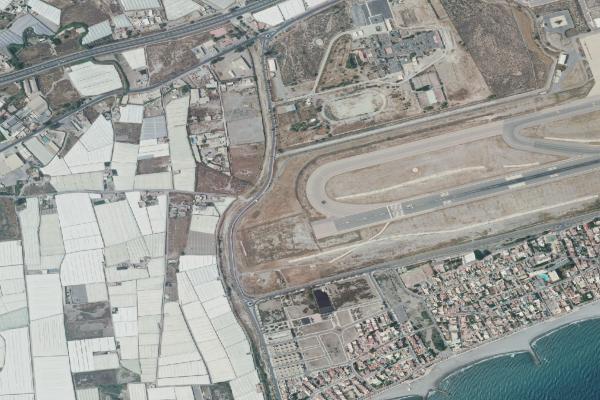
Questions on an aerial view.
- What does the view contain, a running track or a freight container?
running track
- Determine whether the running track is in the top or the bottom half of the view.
top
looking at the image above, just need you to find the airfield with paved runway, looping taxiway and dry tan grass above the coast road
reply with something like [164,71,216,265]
[233,30,600,295]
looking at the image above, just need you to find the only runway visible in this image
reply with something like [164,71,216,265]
[335,155,600,228]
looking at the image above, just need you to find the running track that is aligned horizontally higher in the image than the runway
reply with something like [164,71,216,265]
[322,90,387,124]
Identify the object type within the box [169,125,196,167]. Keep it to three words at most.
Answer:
greenhouse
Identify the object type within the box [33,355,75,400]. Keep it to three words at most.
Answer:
greenhouse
